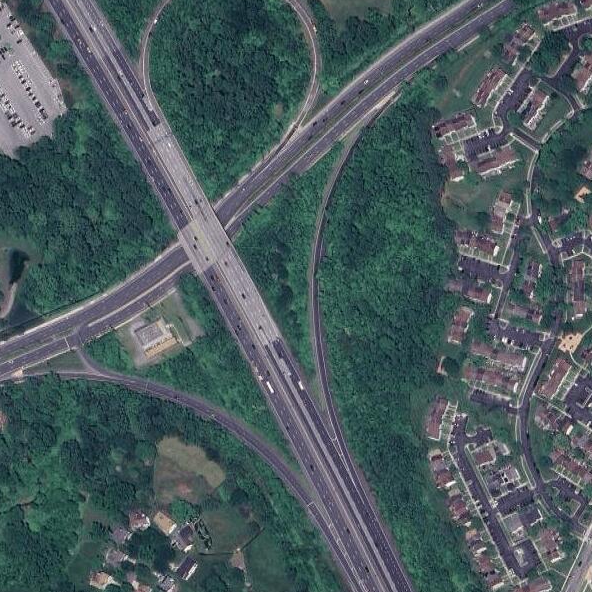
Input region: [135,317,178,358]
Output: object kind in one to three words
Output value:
building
